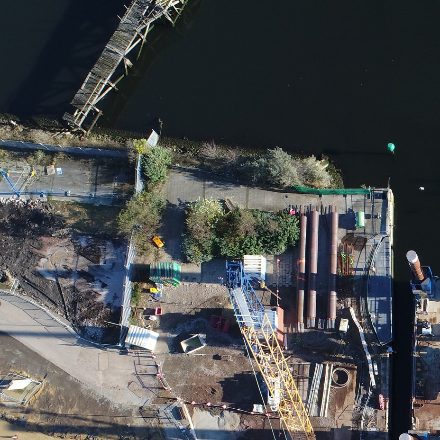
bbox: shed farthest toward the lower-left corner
[125,325,167,354]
